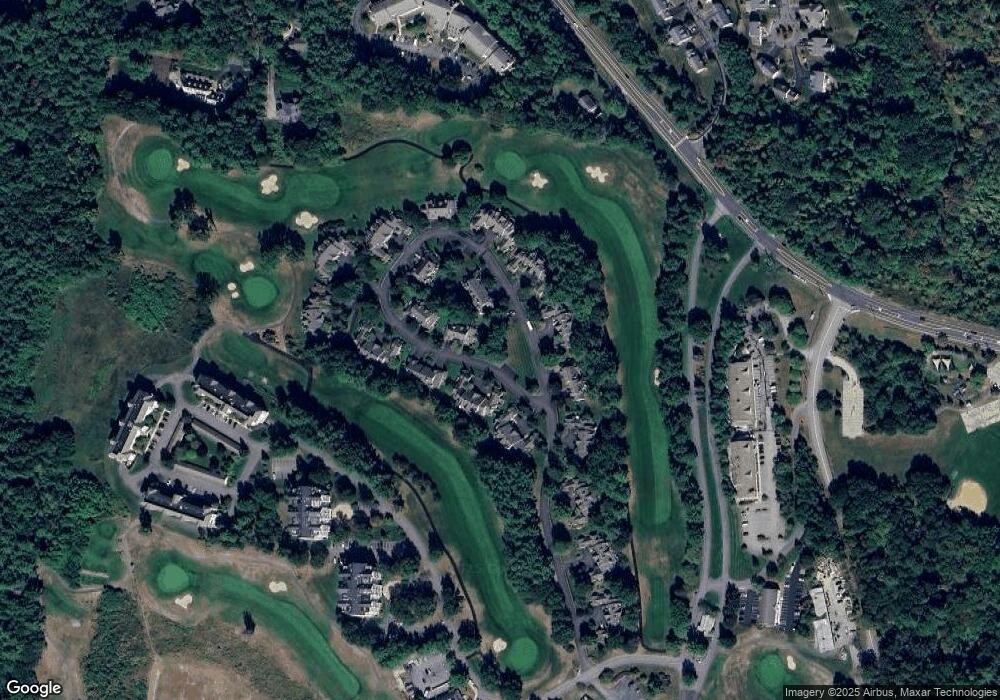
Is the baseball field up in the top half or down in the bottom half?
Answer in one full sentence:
The baseball field sits in the bottom half of the picture.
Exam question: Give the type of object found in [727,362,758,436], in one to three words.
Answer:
building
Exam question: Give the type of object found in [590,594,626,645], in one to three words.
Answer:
house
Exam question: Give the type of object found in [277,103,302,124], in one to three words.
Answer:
house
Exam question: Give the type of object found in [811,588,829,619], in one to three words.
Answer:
shed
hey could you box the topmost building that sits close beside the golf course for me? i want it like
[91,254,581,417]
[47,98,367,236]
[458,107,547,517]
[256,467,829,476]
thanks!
[365,0,519,79]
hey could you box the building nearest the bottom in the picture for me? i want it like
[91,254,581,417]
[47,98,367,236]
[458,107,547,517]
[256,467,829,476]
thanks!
[394,651,465,700]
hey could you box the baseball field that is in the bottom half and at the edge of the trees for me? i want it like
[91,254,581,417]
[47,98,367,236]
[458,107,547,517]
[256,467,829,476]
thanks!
[817,396,1000,527]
